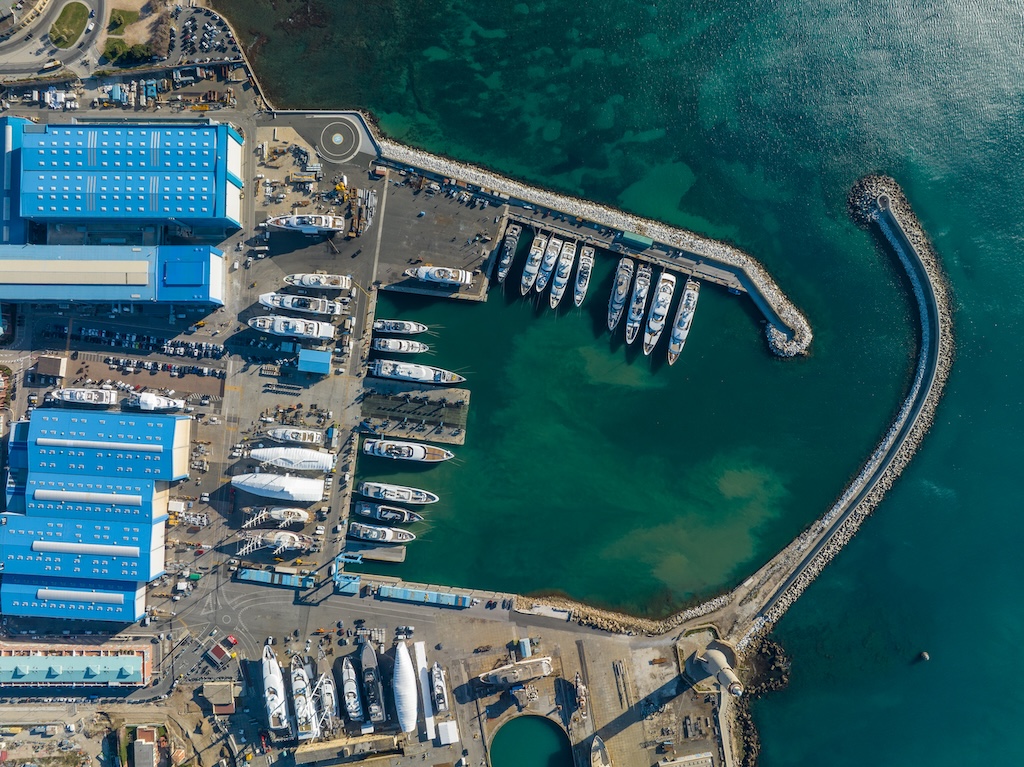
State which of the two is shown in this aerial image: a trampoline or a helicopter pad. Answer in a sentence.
Visible in the photo is a helicopter pad.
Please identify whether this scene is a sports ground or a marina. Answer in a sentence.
The picture captures a marina.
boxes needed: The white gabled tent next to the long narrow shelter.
[438,718,459,745]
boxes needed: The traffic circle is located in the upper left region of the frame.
[47,0,91,50]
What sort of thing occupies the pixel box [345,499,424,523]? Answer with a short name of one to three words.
boat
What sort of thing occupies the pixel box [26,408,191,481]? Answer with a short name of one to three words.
building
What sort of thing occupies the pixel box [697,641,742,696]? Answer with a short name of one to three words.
lighthouse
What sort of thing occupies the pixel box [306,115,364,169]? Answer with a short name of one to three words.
helipad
